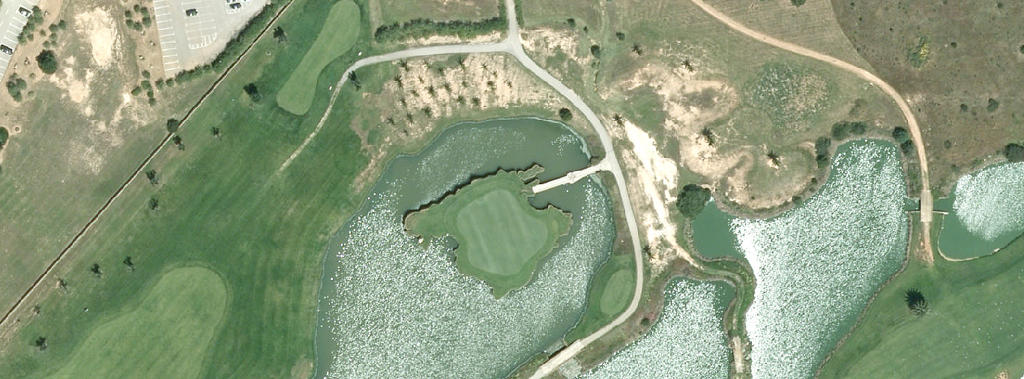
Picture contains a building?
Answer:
No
